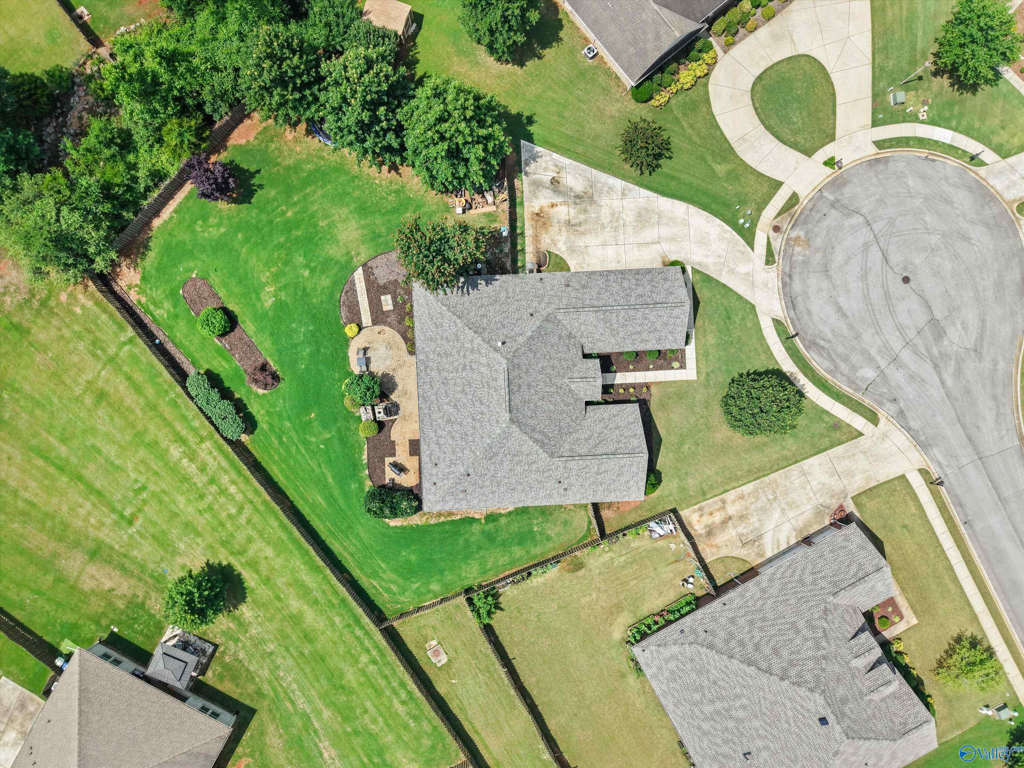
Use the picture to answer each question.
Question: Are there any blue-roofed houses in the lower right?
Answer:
No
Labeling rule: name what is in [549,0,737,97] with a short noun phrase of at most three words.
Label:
house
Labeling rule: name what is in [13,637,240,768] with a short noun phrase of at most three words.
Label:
house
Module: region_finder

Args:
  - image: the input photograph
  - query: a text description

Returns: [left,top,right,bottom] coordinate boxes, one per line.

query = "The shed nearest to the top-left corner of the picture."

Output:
[362,0,414,47]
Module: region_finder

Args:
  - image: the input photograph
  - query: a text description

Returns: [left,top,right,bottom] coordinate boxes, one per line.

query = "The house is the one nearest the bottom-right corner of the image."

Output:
[630,521,938,768]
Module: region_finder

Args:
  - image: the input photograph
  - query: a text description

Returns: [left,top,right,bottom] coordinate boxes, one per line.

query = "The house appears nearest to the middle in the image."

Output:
[412,266,690,513]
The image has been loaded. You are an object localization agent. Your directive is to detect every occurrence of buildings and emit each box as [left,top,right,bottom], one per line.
[362,0,414,47]
[13,637,240,768]
[630,521,938,768]
[549,0,737,97]
[412,266,690,513]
